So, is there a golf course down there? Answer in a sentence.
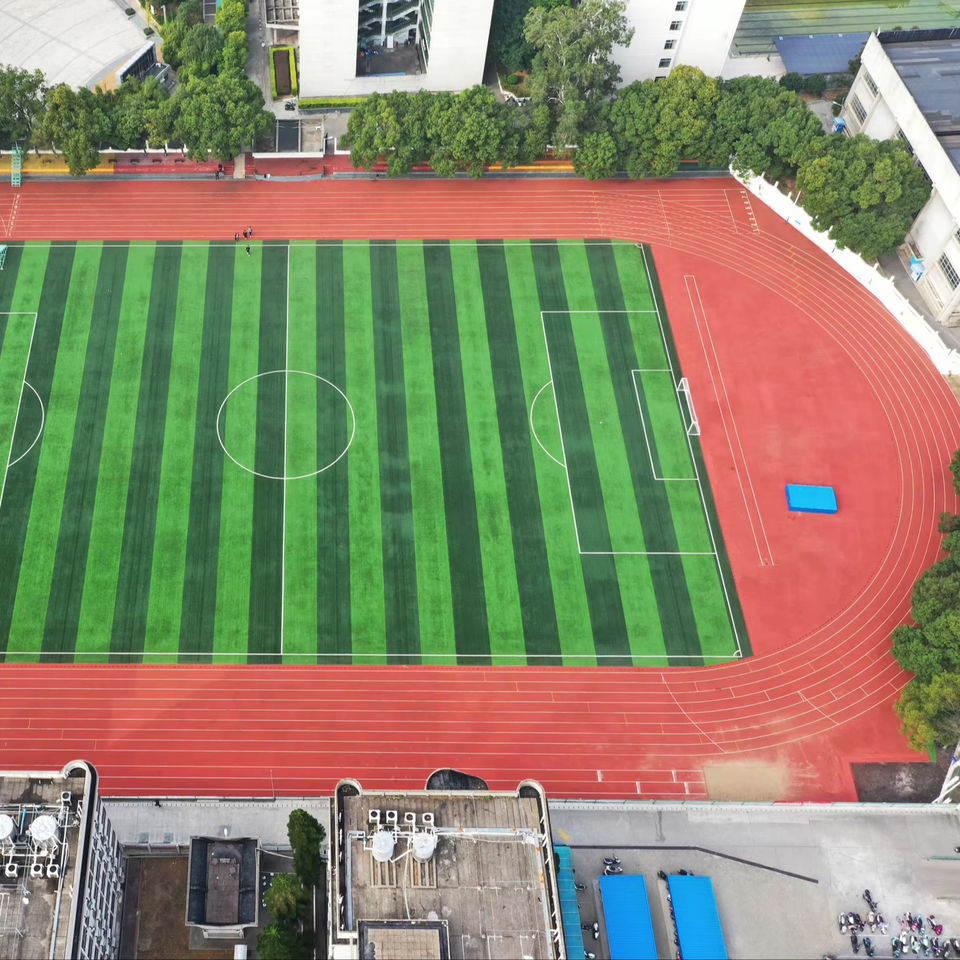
No, I can't see a single golf course in this photo.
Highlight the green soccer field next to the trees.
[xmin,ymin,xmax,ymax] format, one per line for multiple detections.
[0,239,756,668]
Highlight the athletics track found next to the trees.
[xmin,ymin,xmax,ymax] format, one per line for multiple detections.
[0,177,960,800]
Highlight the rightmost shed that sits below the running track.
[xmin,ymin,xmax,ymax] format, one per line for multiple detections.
[664,877,728,960]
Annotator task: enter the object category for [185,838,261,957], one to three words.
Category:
building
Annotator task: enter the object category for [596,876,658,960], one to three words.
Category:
shed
